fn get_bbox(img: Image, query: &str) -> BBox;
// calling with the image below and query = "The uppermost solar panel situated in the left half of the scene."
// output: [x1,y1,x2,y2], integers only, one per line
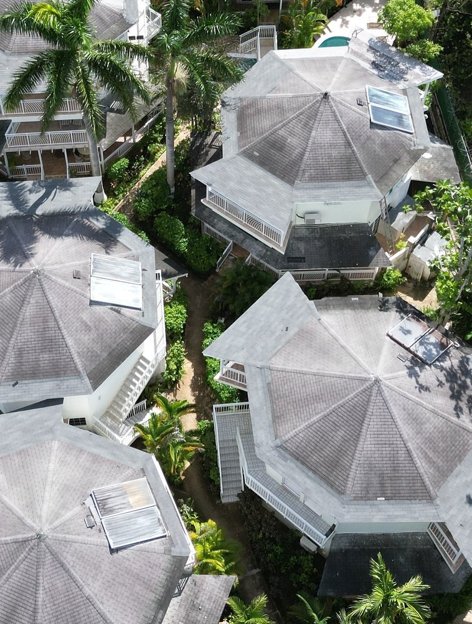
[88,254,141,311]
